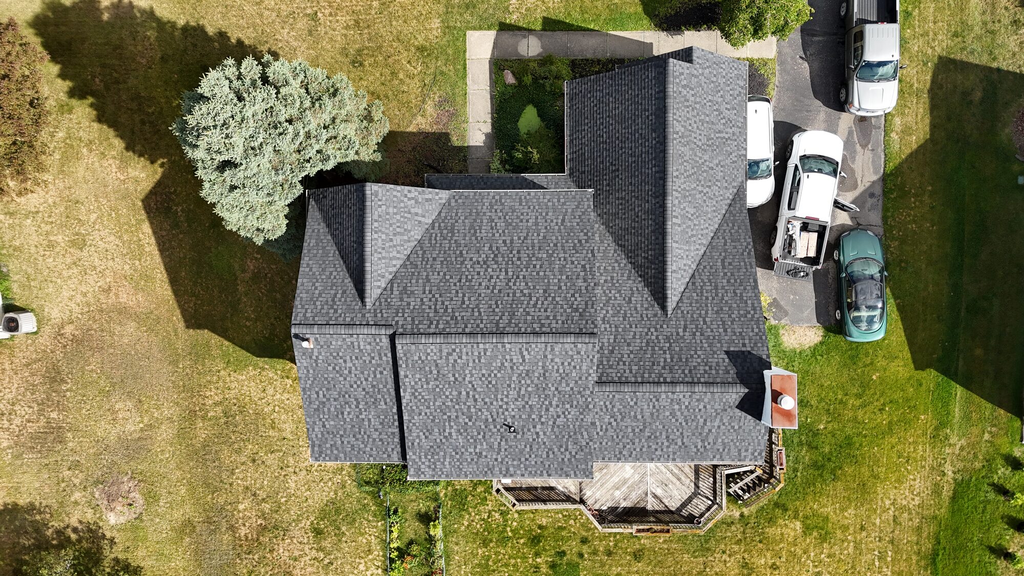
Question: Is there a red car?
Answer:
No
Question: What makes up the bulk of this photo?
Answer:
grass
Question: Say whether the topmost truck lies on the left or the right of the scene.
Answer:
right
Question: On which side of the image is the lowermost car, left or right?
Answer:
right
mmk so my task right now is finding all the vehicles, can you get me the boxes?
[838,0,908,120]
[833,228,895,343]
[767,129,859,283]
[745,97,783,207]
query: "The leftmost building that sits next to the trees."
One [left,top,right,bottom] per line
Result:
[290,45,797,482]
